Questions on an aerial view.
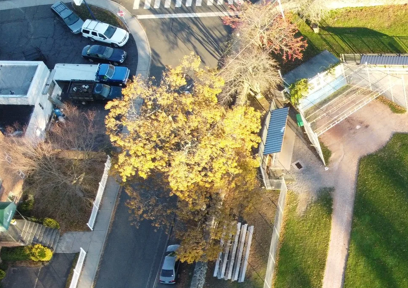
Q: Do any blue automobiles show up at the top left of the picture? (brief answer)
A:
Yes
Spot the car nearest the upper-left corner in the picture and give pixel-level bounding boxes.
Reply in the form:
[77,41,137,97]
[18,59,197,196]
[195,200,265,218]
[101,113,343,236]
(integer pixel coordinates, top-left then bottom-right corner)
[49,0,82,33]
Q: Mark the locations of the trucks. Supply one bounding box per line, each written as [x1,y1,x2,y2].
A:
[52,59,134,87]
[56,79,124,104]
